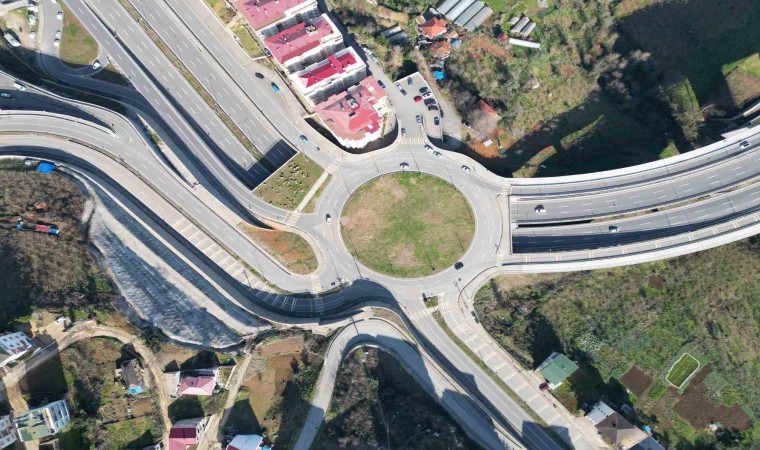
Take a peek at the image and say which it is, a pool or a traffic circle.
traffic circle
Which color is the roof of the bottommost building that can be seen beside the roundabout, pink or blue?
pink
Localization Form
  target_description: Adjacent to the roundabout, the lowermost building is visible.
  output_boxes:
[315,76,393,148]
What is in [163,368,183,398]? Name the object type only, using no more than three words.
building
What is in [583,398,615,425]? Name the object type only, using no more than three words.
shed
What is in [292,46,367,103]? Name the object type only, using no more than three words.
building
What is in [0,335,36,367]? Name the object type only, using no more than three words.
house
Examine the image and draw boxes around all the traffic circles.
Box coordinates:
[283,137,506,321]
